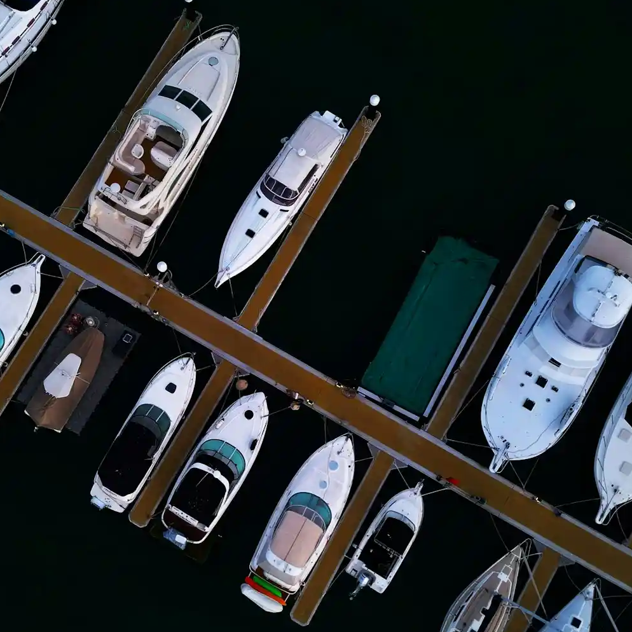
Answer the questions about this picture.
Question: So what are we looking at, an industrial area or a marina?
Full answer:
The area seen from above is a marina.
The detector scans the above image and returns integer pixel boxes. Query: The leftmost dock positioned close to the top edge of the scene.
[51,11,203,230]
